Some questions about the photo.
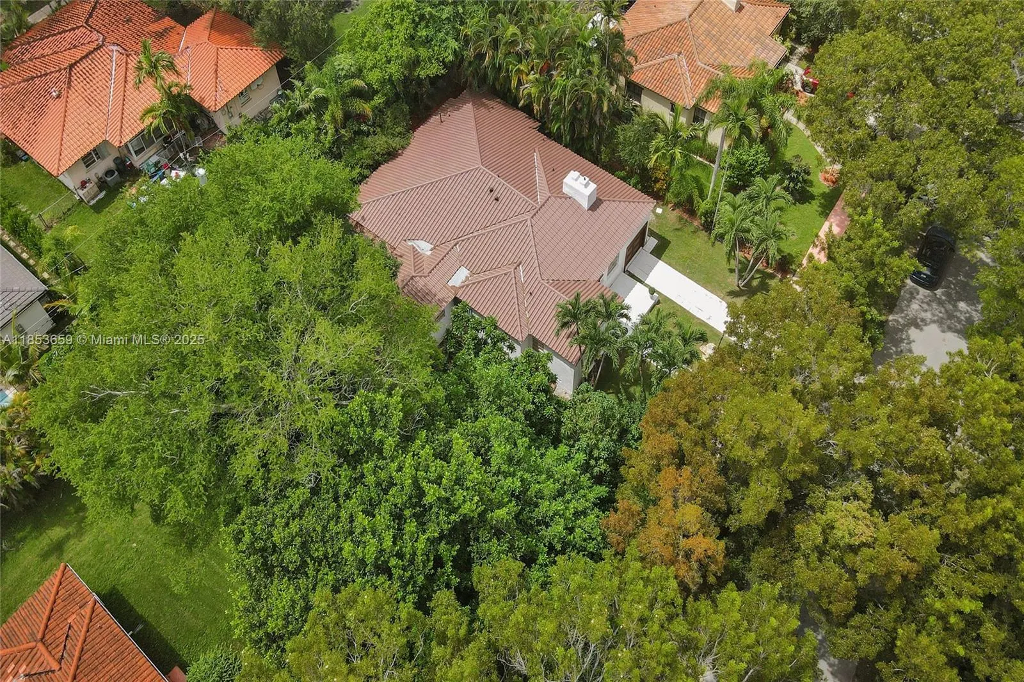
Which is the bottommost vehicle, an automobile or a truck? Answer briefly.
automobile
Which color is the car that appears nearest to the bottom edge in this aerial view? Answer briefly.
black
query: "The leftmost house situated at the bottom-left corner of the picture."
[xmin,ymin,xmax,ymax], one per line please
[0,561,169,682]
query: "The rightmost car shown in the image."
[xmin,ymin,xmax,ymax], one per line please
[908,220,962,296]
